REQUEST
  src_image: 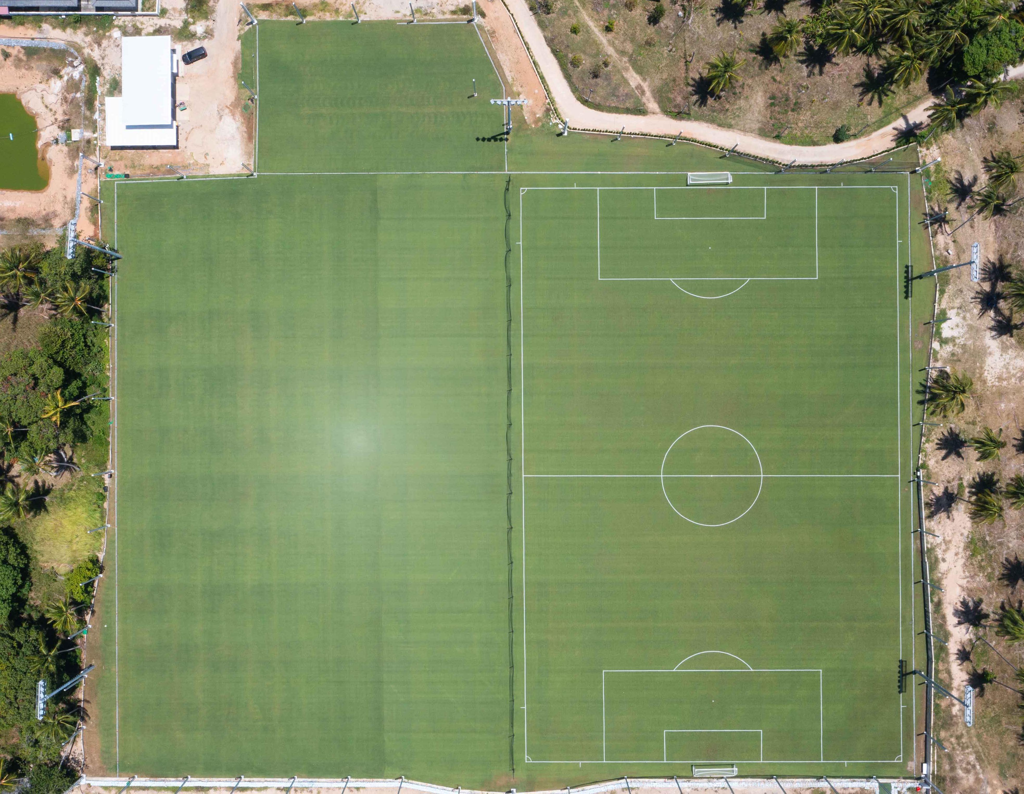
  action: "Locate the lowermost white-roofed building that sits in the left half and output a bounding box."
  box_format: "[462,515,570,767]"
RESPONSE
[105,35,183,146]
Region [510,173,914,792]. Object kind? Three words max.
soccer field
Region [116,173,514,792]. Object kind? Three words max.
sports field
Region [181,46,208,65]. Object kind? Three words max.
car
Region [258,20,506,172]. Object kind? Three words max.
sports field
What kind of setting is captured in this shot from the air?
sports ground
